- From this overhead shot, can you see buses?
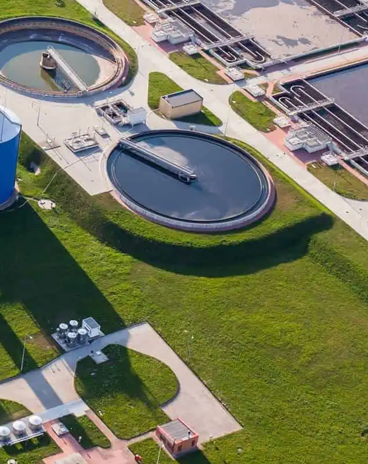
No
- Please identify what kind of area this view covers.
industrial area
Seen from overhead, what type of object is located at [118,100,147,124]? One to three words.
building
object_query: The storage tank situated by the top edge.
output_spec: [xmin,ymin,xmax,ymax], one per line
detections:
[0,12,130,99]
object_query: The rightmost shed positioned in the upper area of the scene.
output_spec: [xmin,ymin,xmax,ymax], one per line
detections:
[160,88,204,118]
